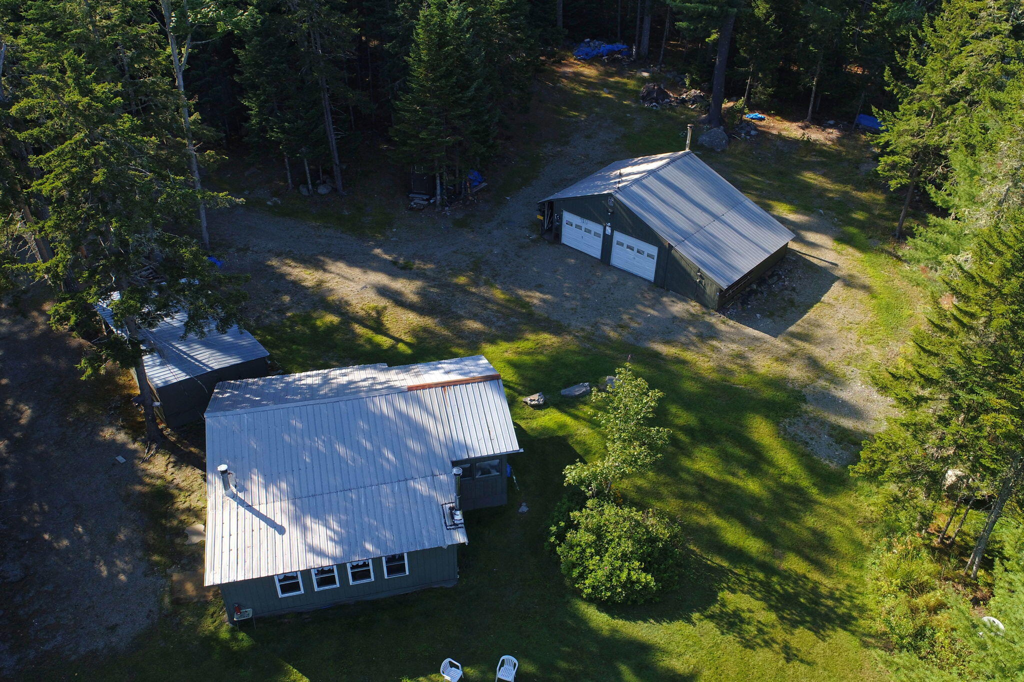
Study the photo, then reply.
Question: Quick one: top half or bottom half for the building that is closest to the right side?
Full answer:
It is in the top half that the building that is closest to the right side appears.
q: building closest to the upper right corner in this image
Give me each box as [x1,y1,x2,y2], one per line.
[536,125,793,315]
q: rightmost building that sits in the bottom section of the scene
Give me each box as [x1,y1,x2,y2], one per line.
[205,353,529,626]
